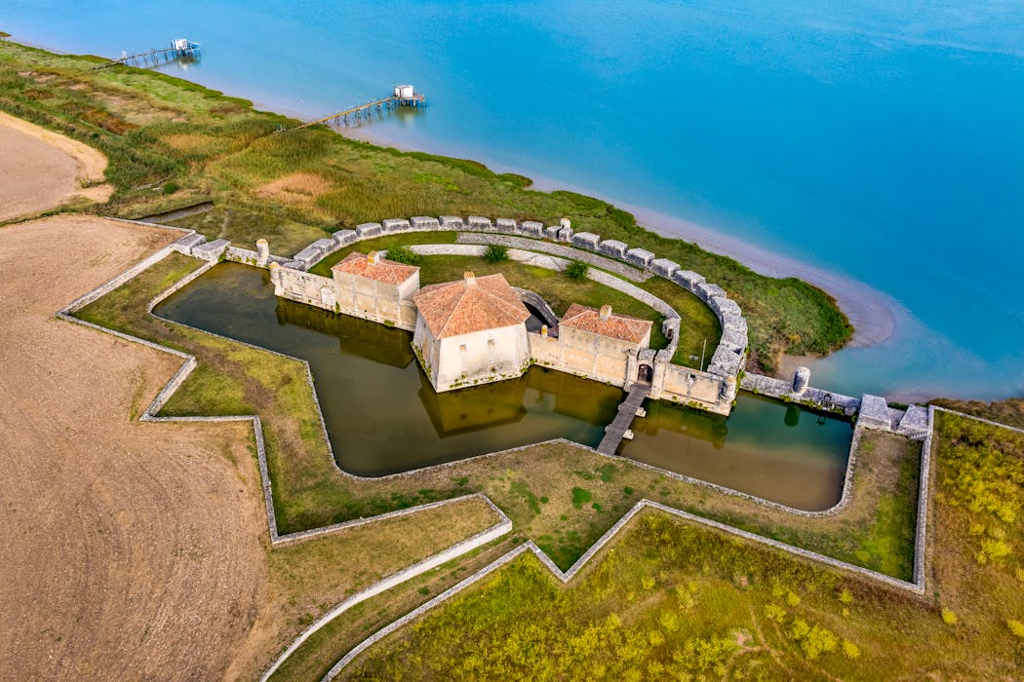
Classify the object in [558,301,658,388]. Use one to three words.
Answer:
house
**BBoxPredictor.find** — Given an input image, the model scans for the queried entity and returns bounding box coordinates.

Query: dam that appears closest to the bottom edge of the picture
[745,373,862,418]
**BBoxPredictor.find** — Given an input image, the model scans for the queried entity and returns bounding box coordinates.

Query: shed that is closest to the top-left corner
[170,31,204,63]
